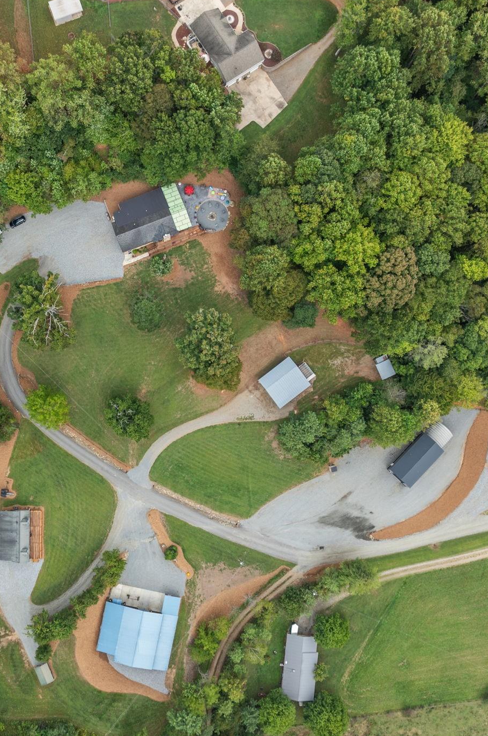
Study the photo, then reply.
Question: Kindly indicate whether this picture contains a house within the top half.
Yes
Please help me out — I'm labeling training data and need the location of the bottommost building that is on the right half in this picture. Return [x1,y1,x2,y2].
[280,631,318,706]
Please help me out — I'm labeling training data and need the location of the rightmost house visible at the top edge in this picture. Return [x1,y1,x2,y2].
[190,9,264,87]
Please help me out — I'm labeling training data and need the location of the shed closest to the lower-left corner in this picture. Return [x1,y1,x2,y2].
[34,662,55,685]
